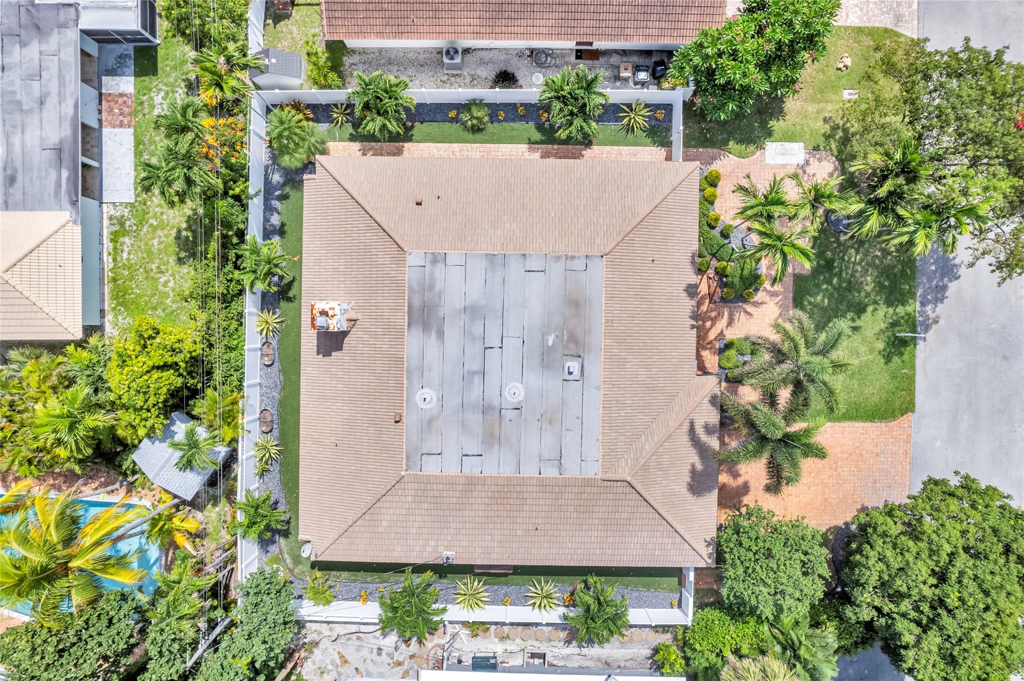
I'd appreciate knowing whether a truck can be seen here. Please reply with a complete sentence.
No, the photo shows no truck.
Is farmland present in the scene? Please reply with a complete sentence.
No, farmland can't be seen anywhere here.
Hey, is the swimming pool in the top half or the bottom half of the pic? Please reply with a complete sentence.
The bottom half of the photo is where the swimming pool is.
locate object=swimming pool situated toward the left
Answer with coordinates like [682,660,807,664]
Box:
[0,491,168,620]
